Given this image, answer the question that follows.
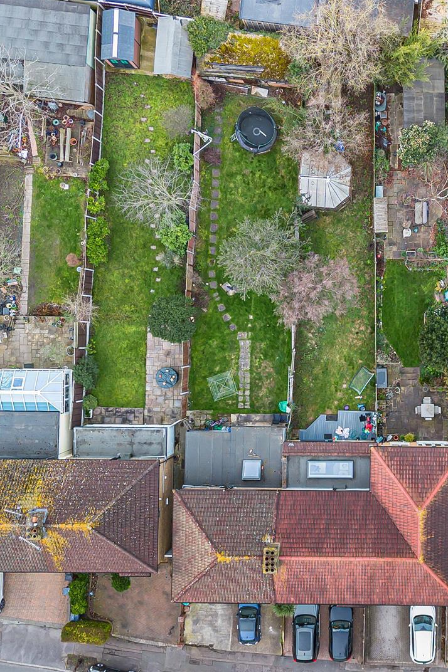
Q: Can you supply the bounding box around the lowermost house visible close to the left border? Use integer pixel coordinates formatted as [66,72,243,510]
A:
[0,453,176,573]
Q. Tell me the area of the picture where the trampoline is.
top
